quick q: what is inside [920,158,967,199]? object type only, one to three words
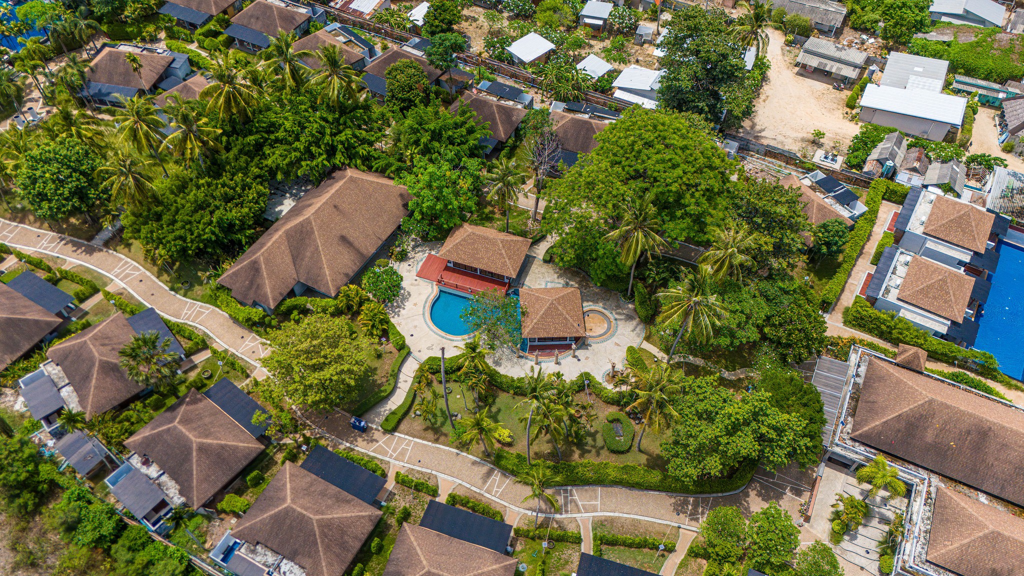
shed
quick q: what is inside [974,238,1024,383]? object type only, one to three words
swimming pool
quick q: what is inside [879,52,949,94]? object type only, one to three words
house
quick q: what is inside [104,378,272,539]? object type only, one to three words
house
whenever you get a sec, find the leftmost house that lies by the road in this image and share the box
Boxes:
[0,270,82,374]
